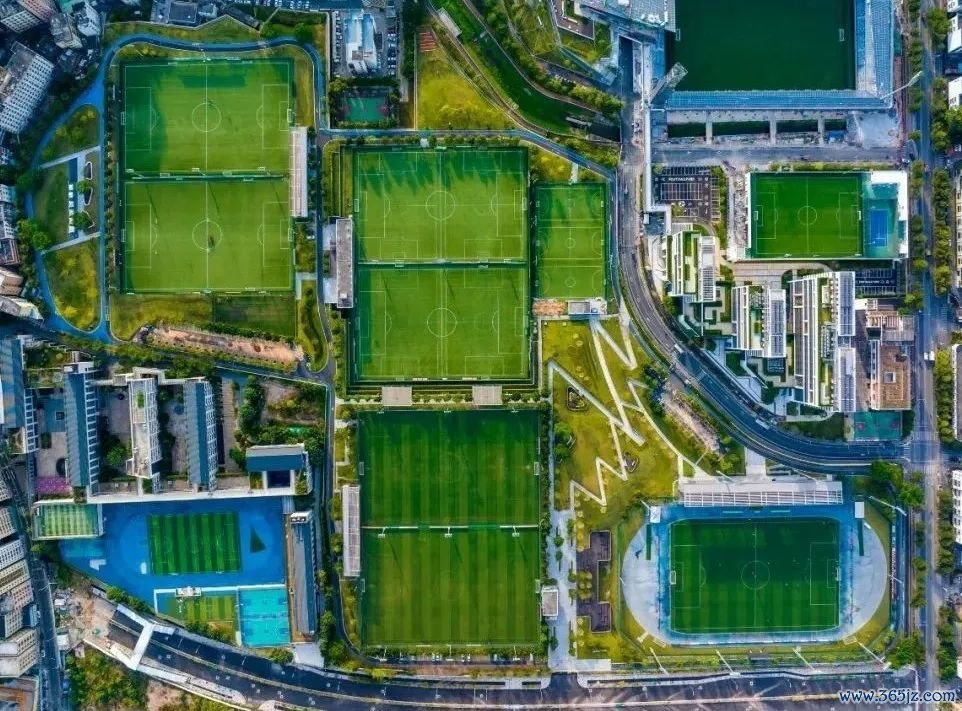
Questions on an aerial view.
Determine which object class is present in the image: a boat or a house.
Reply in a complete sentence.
It is a house that can be seen here.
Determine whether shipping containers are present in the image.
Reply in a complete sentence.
No, no shipping container can be seen from above.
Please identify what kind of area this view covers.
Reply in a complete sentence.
What you see here is a sports ground.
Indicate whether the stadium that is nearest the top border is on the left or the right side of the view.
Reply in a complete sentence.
The stadium that is nearest the top border is on the right side of the image.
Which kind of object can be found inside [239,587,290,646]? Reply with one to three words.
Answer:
sports court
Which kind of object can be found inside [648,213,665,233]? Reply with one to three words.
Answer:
building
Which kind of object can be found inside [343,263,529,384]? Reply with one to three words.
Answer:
soccer field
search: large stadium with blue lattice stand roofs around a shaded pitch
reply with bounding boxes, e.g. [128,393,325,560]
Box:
[576,0,895,146]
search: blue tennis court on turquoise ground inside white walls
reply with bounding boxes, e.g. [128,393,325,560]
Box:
[862,172,904,255]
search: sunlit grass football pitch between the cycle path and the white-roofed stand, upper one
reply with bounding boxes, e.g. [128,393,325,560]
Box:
[118,54,297,178]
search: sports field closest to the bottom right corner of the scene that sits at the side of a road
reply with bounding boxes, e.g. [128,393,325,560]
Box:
[622,495,888,646]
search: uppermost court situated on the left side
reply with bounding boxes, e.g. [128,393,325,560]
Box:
[345,97,387,121]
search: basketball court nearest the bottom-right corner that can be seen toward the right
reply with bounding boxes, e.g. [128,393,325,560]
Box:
[854,412,903,441]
